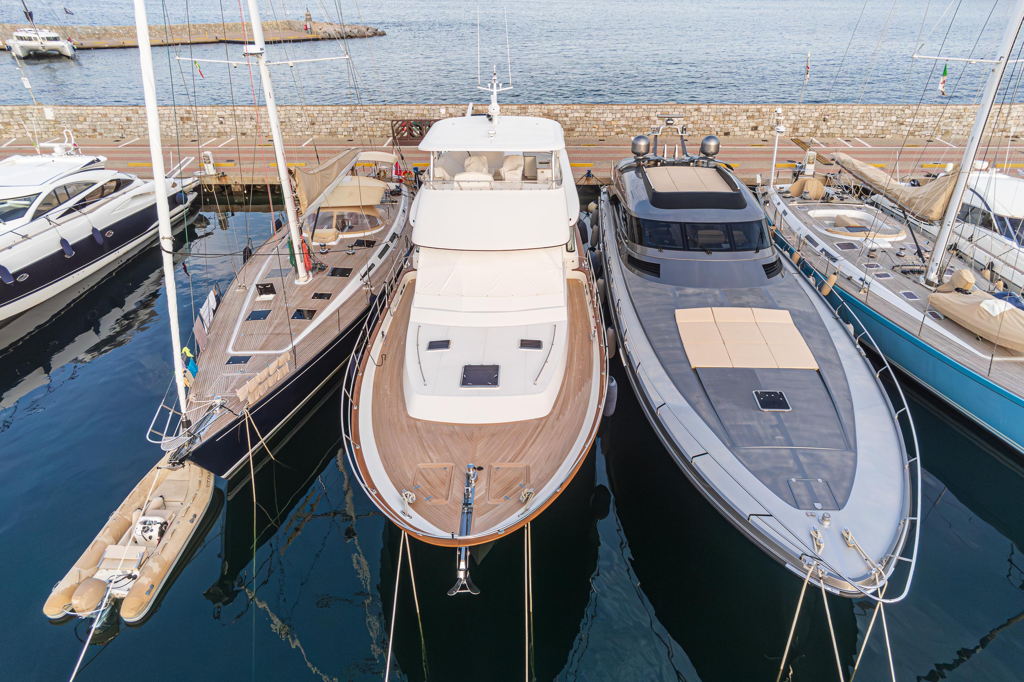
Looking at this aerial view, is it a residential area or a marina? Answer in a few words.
marina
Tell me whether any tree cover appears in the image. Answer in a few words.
No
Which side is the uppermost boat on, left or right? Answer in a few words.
left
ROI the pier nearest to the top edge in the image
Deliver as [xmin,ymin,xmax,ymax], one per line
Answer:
[0,29,321,54]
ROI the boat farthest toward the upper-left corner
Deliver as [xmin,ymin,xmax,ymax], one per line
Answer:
[10,0,80,56]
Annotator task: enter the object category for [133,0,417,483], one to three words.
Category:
boat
